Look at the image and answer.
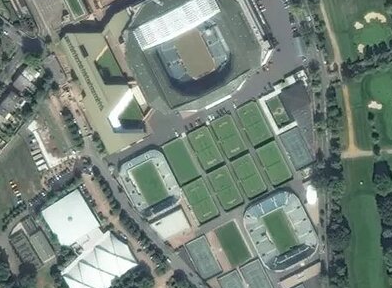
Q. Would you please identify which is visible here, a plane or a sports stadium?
sports stadium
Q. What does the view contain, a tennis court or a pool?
tennis court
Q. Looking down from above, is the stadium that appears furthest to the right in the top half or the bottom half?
bottom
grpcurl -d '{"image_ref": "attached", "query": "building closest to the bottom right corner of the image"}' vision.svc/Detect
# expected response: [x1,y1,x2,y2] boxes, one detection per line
[280,263,321,288]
